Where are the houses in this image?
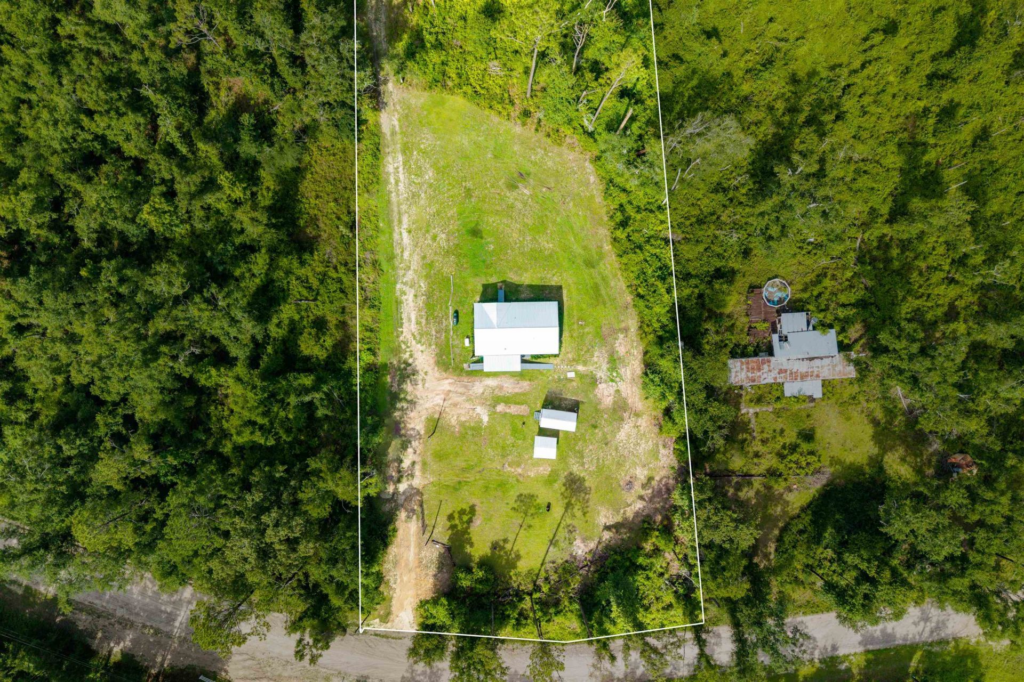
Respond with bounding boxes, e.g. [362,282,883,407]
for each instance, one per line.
[724,312,865,399]
[470,290,559,372]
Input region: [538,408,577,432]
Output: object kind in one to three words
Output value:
shed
